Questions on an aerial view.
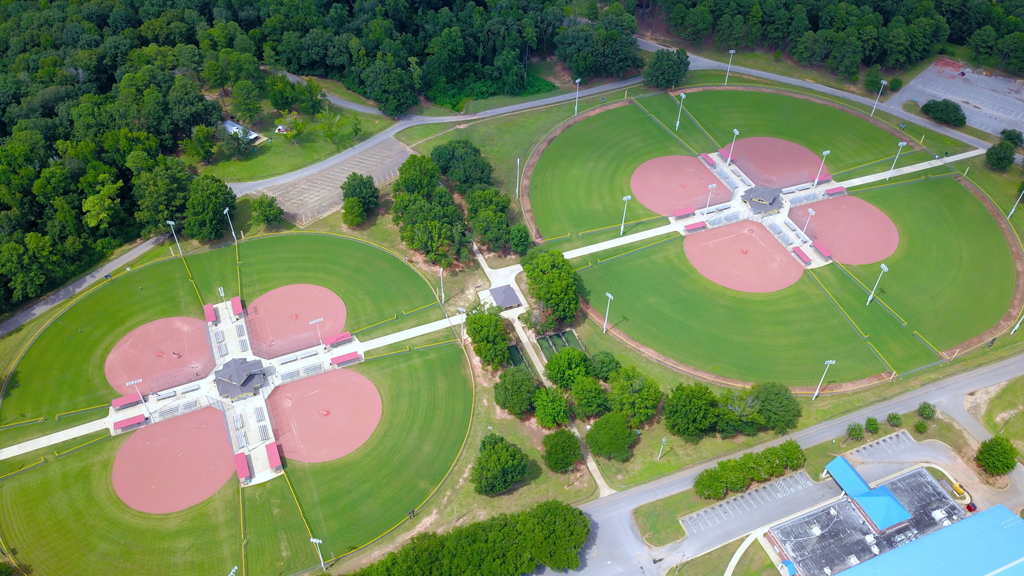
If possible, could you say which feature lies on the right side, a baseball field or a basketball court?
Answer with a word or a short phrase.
baseball field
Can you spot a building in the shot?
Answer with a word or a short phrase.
Yes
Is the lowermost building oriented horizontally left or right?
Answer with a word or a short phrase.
right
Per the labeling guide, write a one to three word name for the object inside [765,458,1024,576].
building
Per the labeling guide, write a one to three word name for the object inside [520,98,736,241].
baseball field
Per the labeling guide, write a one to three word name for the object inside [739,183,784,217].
building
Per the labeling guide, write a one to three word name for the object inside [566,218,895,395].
baseball field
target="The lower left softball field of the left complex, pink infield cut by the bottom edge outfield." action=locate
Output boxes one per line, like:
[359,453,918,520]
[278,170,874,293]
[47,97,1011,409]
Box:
[0,403,248,576]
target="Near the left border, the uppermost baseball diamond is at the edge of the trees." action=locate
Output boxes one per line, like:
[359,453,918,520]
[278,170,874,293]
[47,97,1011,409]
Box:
[0,254,220,428]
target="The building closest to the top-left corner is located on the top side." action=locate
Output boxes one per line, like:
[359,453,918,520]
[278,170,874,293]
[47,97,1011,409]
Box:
[221,120,266,148]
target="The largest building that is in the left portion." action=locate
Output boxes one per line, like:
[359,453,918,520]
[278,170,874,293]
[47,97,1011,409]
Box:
[211,353,267,401]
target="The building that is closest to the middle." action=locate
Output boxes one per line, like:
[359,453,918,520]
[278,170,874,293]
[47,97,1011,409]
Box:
[491,284,521,313]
